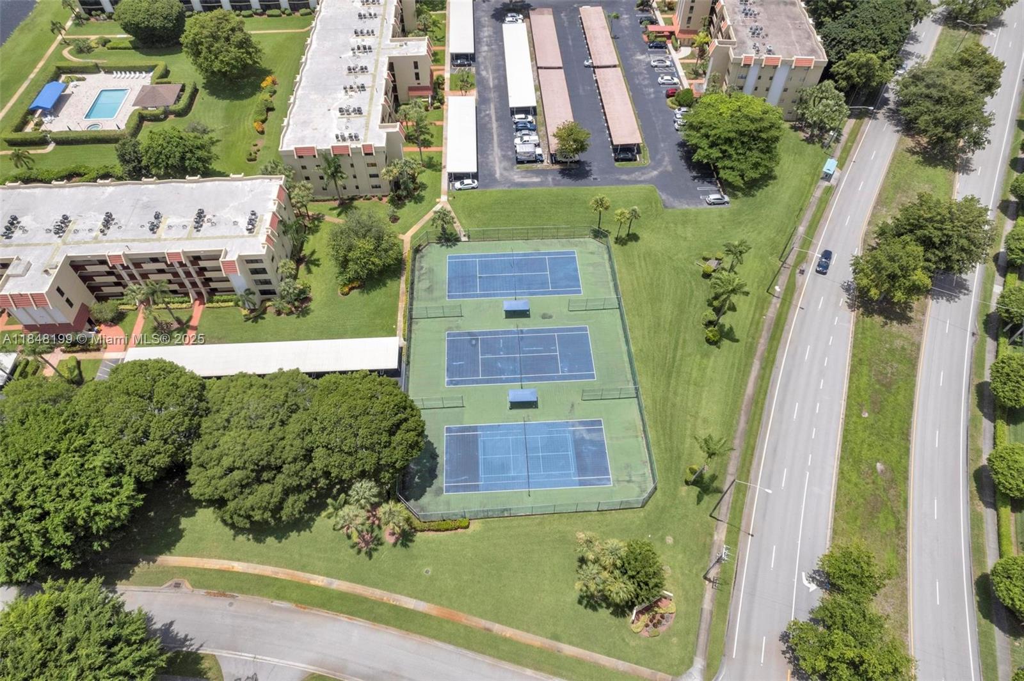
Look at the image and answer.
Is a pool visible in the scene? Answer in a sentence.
Yes, there is a pool in the image.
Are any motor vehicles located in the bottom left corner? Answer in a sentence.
No, I can find no motor vehicle in the bottom left corner.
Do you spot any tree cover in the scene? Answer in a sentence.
Yes, tree cover can be seen from above here.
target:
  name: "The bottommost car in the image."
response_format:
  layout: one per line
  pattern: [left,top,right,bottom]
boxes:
[816,250,834,275]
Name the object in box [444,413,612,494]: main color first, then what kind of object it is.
blue tennis court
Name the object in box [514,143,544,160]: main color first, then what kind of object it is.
white vehicle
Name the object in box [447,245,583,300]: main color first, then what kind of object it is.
blue tennis court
